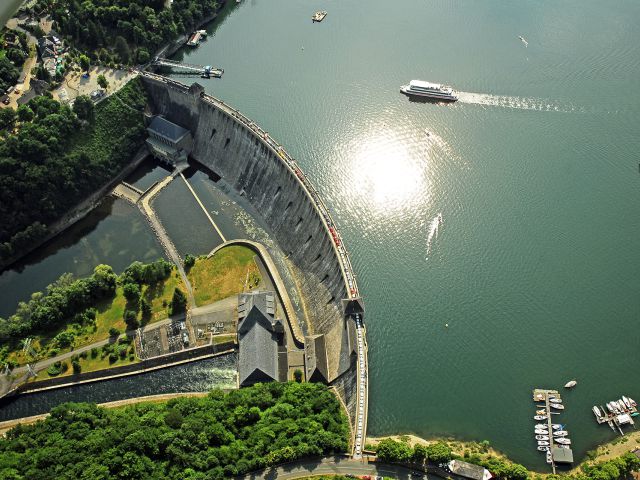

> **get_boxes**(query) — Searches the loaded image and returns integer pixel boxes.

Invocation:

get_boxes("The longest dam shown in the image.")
[138,69,371,460]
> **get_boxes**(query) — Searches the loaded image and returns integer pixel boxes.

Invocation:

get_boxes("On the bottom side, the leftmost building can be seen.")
[238,293,288,393]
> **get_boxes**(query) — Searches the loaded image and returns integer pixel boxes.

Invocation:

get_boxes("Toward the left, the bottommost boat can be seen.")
[187,30,204,45]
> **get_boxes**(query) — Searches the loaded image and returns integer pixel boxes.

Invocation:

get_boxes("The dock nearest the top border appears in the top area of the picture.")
[162,61,223,75]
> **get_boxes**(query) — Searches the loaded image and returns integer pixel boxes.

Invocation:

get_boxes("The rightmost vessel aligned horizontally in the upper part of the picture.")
[400,86,458,104]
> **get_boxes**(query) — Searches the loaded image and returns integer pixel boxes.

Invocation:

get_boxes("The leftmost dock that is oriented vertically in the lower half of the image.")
[533,389,560,470]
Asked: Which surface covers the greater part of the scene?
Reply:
water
